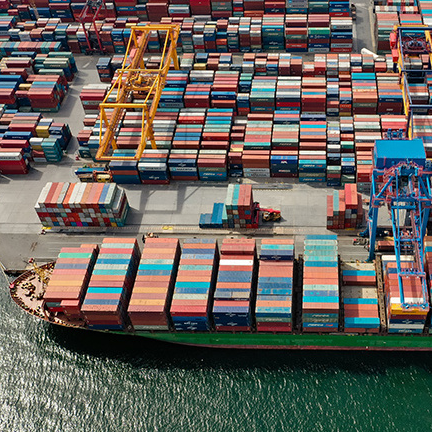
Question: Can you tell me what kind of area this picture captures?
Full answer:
The picture captures a port.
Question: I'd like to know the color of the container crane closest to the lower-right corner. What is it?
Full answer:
From above, the container crane closest to the lower-right corner appears blue.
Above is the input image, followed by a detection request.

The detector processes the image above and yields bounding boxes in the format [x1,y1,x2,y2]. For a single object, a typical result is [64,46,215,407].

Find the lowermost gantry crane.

[357,128,432,310]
